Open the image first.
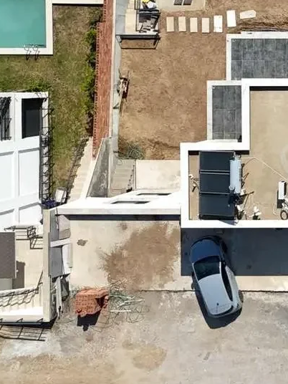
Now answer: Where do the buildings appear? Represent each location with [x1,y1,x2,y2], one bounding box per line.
[180,32,288,228]
[0,92,52,216]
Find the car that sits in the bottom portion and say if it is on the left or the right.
right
